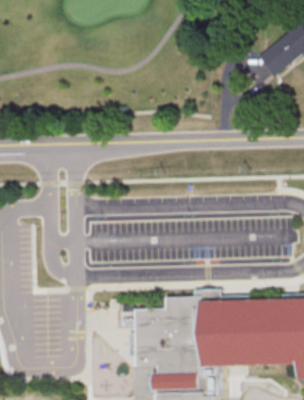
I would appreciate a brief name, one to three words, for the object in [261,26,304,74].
house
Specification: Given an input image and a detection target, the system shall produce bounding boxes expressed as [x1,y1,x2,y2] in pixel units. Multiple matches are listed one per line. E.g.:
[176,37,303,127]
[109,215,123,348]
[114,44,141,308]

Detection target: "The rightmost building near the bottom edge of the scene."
[134,287,304,400]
